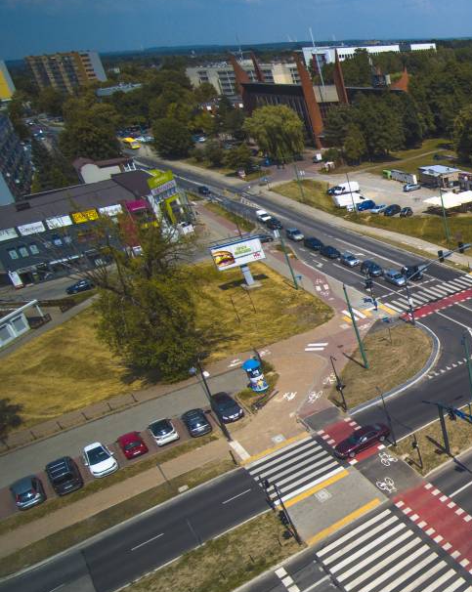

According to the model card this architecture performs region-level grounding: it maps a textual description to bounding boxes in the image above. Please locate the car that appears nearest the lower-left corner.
[6,477,49,513]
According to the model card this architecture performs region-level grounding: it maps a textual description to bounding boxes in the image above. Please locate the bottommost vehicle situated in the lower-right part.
[333,424,394,459]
